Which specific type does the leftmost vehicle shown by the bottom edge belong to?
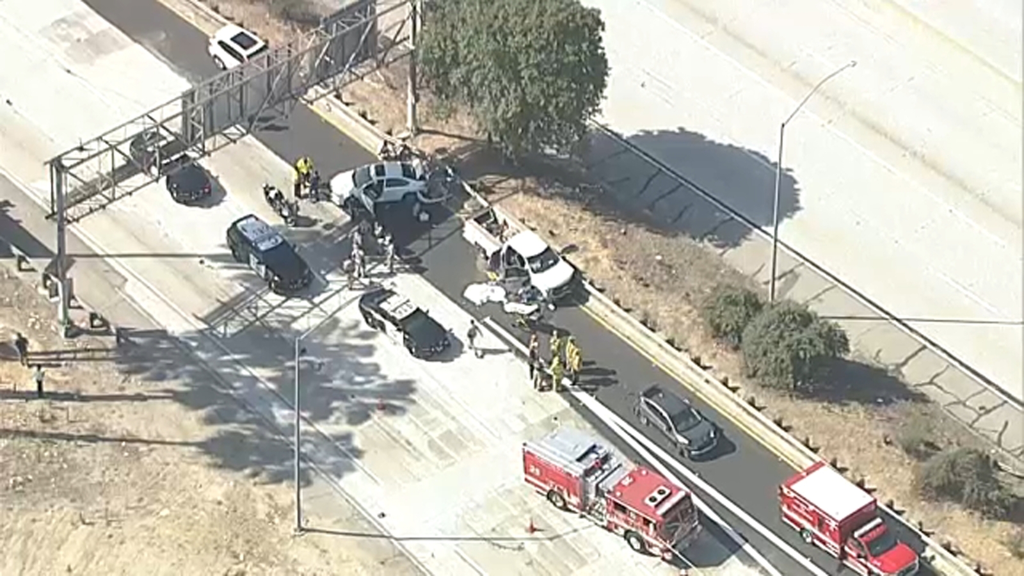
truck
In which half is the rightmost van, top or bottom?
bottom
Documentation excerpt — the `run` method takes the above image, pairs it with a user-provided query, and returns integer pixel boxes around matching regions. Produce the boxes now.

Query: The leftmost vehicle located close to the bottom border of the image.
[518,416,709,571]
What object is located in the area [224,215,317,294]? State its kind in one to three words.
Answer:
car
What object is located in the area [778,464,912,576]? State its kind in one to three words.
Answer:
van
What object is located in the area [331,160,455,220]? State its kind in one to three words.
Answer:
car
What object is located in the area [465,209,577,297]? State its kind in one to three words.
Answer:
truck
